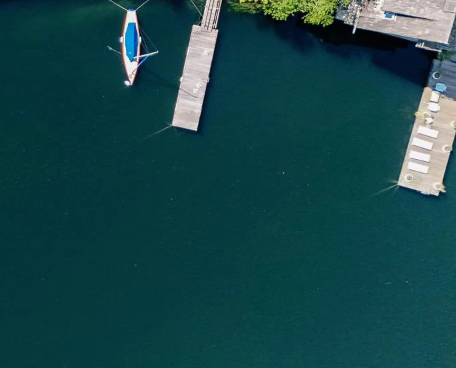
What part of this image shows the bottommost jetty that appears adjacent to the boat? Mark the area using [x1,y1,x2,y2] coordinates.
[172,24,218,131]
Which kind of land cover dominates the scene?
water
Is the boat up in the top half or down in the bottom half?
top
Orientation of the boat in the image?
up and down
